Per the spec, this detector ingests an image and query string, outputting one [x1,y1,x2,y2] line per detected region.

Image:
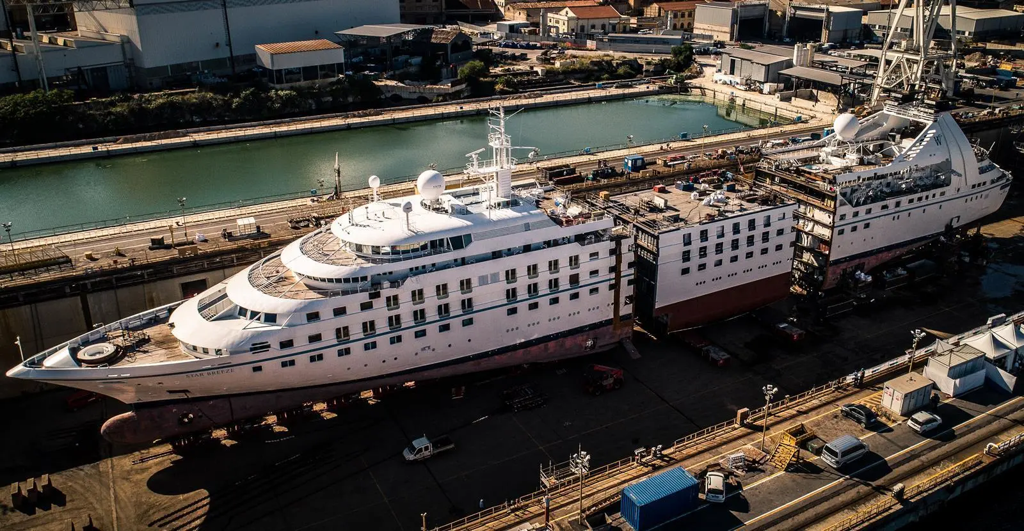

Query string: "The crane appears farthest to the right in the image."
[874,0,959,99]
